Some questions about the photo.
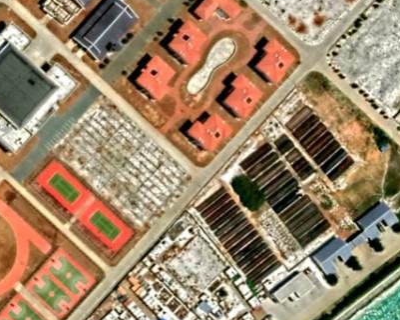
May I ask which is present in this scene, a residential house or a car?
residential house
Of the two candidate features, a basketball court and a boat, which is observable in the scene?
basketball court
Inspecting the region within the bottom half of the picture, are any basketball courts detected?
Yes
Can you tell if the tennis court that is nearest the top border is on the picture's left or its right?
left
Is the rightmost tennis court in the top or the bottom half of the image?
bottom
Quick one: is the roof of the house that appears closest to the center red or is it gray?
red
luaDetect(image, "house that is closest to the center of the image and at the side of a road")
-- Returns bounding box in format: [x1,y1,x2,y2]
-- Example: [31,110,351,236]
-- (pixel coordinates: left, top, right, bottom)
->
[187,115,236,151]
